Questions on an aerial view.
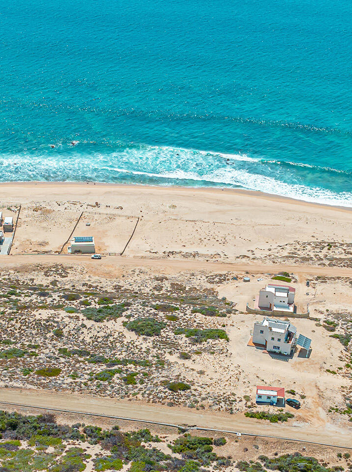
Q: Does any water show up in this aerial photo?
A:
Yes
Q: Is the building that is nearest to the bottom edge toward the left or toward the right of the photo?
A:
right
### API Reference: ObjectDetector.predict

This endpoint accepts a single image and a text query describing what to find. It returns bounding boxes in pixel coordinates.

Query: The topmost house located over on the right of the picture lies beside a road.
[254,280,297,313]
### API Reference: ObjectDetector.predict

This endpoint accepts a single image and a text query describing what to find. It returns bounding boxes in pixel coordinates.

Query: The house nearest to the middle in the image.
[67,235,96,254]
